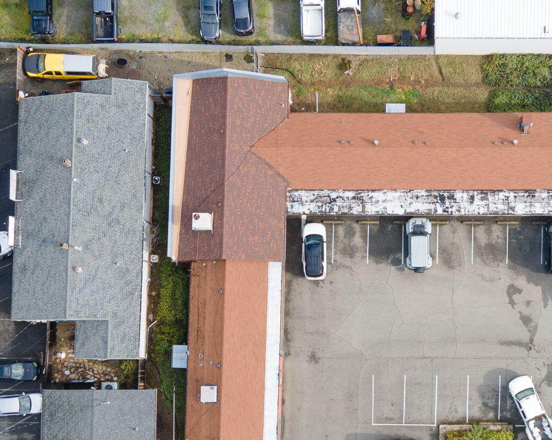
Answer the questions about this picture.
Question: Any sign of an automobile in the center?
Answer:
Yes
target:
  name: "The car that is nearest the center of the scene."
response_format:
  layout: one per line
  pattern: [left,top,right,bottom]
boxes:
[299,223,329,282]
